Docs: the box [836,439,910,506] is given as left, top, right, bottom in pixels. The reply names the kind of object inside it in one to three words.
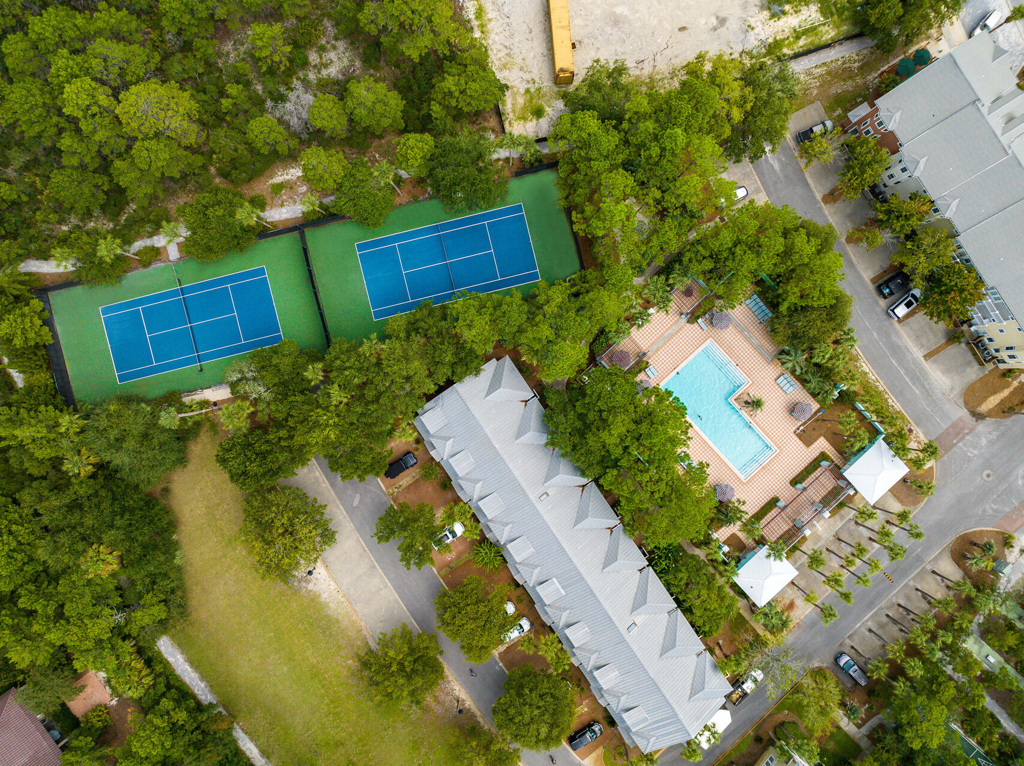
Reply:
building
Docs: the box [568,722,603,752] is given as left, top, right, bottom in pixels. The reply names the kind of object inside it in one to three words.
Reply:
car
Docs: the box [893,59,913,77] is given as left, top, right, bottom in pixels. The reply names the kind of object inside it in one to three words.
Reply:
umbrella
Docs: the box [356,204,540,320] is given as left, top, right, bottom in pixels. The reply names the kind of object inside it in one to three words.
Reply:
tennis court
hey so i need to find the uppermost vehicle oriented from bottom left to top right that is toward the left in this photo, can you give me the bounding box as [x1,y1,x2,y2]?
[385,453,418,479]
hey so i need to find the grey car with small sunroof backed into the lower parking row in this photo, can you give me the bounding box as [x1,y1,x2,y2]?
[835,652,869,687]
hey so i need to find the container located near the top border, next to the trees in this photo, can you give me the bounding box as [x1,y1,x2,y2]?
[547,0,574,85]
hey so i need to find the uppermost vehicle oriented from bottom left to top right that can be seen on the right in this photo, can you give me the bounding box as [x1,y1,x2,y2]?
[969,6,1005,33]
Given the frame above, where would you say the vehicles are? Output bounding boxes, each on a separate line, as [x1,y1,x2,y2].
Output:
[835,652,869,687]
[885,291,921,318]
[724,668,764,708]
[499,618,533,644]
[568,722,603,752]
[502,600,518,620]
[437,523,467,553]
[795,119,834,145]
[385,453,418,479]
[715,185,749,210]
[872,271,911,299]
[969,6,1005,33]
